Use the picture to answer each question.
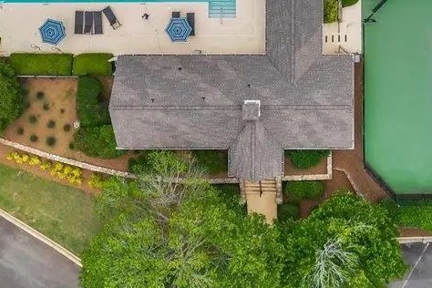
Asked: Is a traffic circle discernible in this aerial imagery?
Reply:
No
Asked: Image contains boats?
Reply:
No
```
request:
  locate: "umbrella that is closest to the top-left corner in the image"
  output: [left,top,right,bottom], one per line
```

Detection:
[41,18,66,45]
